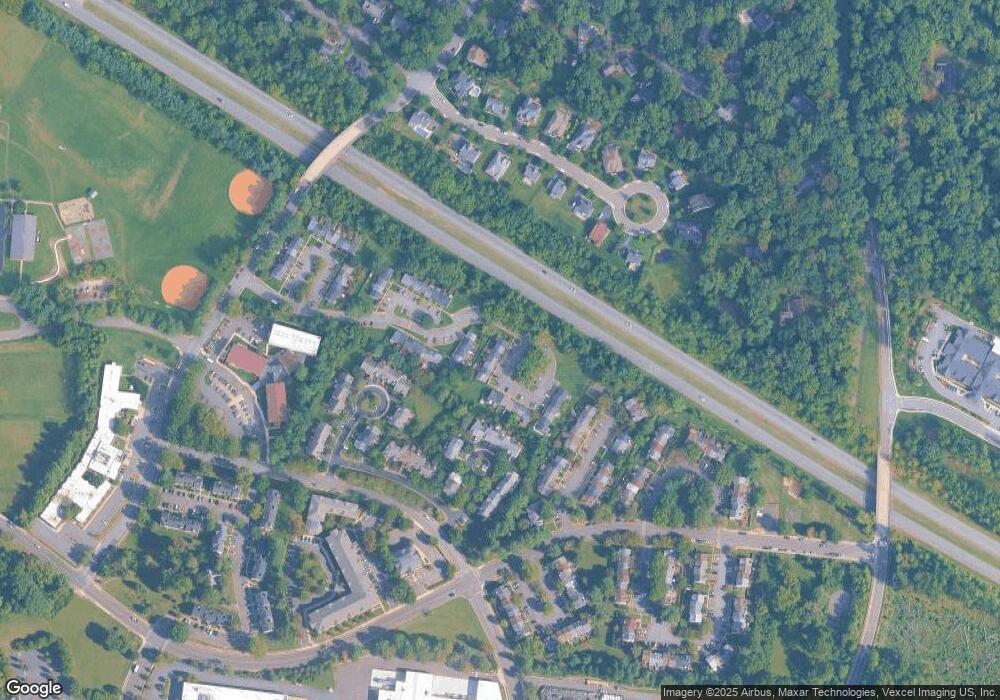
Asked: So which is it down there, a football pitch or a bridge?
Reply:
bridge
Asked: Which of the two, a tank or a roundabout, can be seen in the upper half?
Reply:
roundabout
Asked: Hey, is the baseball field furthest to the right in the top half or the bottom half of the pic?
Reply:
top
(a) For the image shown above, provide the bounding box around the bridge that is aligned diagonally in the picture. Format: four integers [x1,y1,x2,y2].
[295,113,375,192]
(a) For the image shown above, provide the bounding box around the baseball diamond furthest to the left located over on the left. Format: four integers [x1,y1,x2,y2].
[162,266,208,310]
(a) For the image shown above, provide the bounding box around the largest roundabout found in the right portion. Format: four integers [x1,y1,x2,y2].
[613,180,668,234]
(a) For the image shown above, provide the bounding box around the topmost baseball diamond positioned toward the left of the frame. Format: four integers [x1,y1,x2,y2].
[229,169,272,215]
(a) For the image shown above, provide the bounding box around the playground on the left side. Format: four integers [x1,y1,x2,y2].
[58,197,94,226]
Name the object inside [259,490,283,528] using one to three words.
building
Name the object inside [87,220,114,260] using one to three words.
sports court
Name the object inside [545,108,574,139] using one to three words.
house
